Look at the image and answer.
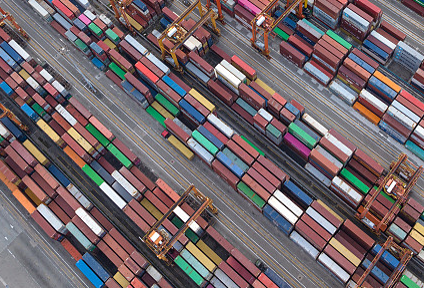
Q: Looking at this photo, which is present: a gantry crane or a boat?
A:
gantry crane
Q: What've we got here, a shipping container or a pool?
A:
shipping container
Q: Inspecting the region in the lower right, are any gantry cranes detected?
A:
Yes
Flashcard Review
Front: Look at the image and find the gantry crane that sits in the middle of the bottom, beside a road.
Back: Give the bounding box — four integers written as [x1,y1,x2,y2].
[138,179,223,272]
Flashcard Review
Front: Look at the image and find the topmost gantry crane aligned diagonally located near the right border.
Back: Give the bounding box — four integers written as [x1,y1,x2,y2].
[350,152,424,244]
